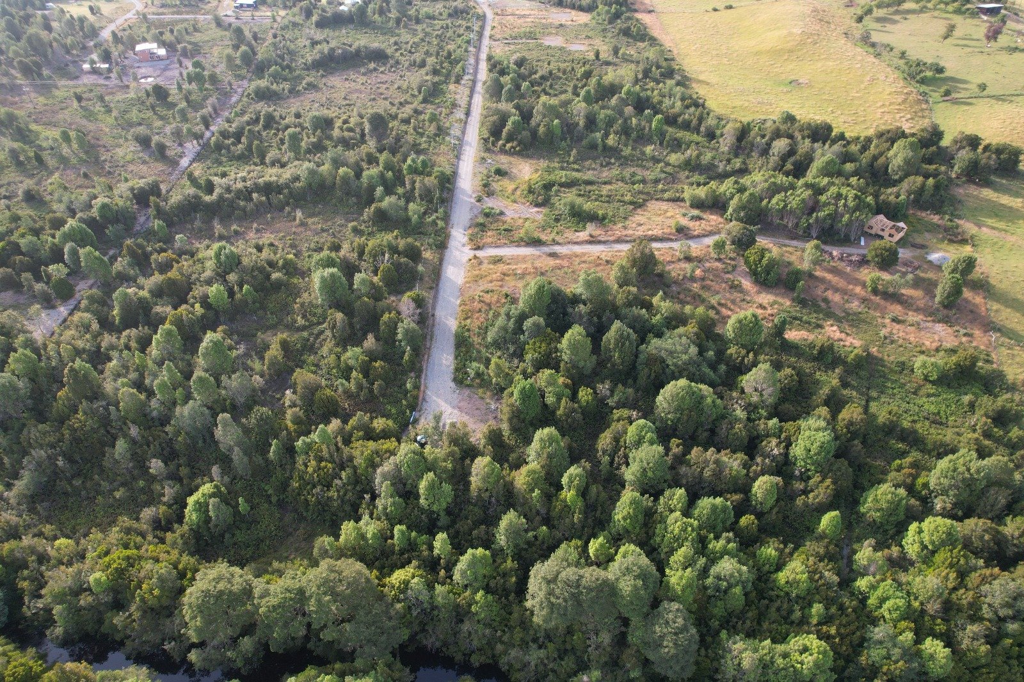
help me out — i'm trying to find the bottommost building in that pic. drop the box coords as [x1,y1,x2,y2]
[863,210,908,240]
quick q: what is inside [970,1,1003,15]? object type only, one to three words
shed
